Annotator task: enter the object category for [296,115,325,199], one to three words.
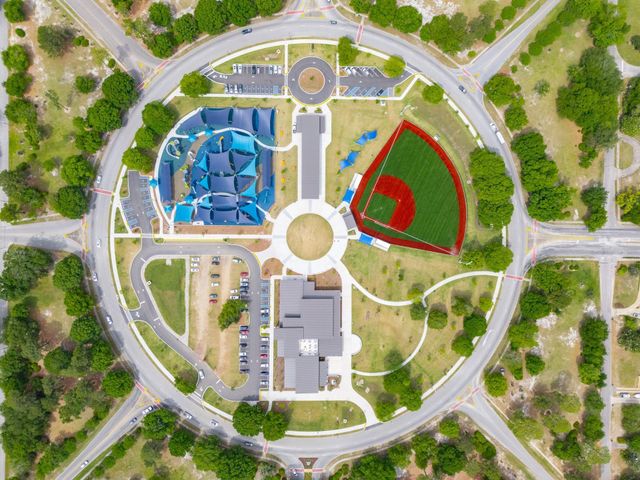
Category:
building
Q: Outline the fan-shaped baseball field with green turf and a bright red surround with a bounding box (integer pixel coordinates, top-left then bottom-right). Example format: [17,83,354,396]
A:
[351,121,466,255]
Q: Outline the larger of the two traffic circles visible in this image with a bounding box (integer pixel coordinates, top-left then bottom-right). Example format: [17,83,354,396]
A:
[89,18,526,458]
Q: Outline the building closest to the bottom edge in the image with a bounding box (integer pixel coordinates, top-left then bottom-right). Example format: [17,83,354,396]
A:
[274,279,343,393]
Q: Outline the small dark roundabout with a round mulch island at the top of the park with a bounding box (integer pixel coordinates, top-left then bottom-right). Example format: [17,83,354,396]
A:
[288,56,336,106]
